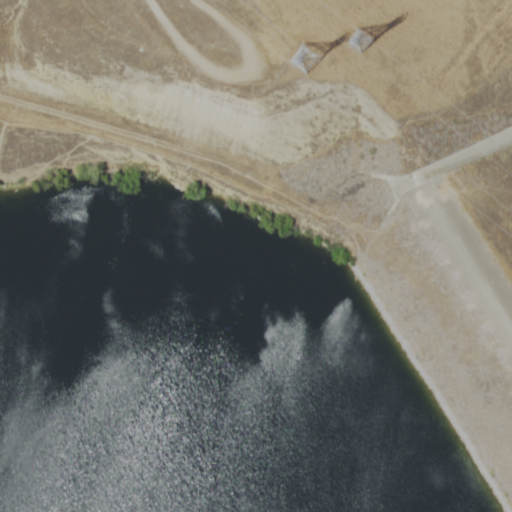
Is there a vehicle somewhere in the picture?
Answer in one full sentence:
No, there isn't any vehicle down there.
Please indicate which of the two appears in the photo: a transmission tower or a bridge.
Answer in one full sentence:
Visible in the photo is a transmission tower.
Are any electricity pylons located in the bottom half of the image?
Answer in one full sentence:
No, I can find no electricity pylon in the bottom half of the image.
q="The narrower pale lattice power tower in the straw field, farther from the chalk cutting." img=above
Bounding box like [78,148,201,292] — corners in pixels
[347,28,374,54]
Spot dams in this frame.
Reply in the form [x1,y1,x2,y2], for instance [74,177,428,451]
[350,160,512,512]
